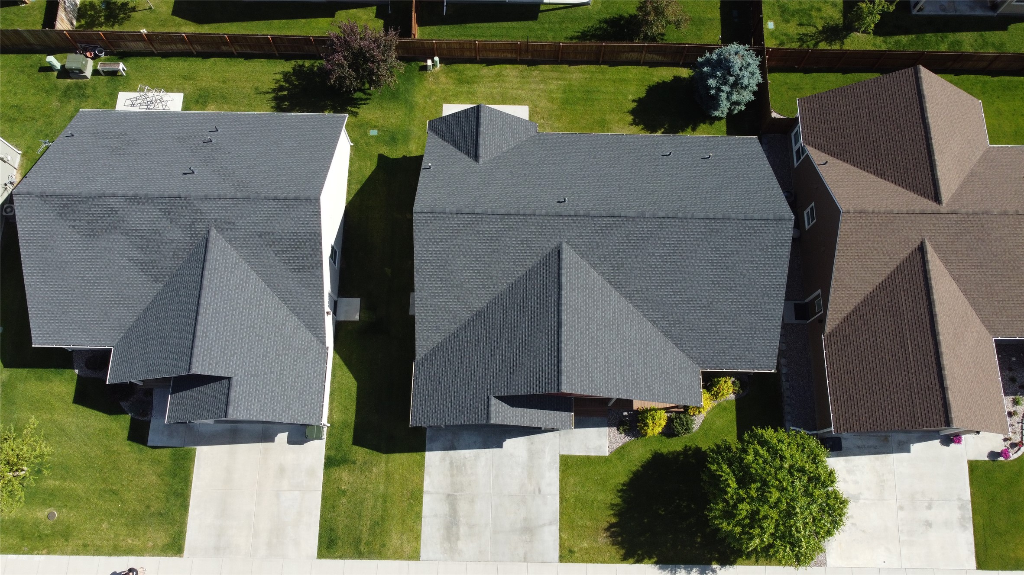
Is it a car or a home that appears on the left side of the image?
home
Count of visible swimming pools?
zero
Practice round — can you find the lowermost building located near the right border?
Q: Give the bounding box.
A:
[789,63,1024,438]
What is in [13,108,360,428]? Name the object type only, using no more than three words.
house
